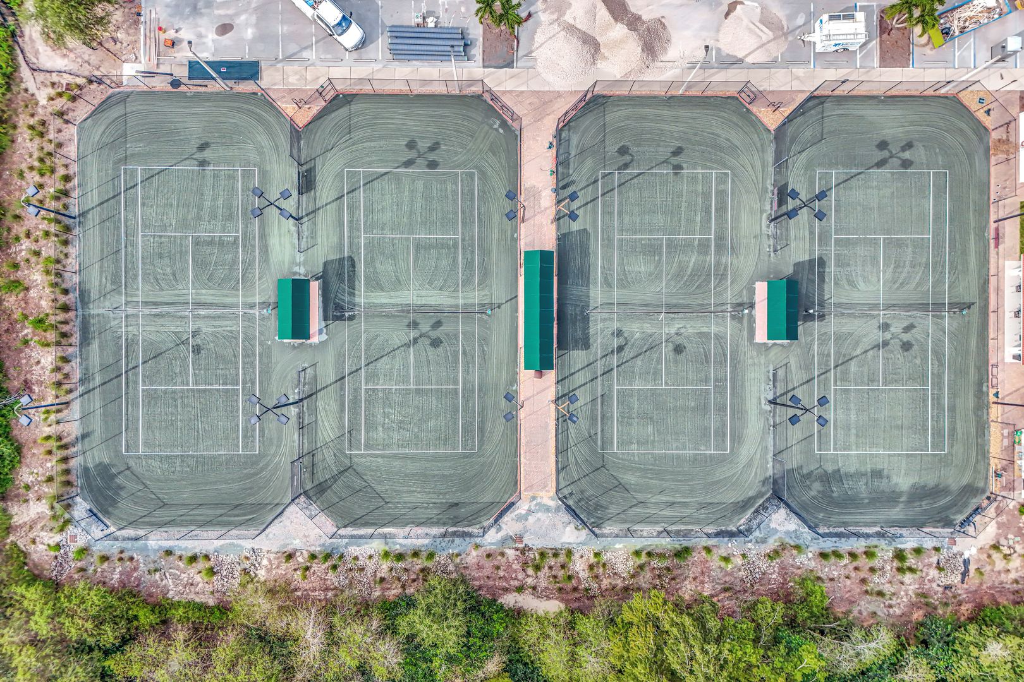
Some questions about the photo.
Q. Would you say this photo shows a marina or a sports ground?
sports ground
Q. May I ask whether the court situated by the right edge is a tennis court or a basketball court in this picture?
tennis court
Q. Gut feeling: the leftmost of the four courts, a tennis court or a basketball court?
tennis court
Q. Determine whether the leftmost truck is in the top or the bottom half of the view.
top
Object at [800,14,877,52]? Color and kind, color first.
white trailer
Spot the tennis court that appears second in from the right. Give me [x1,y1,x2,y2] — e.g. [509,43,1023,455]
[555,93,775,529]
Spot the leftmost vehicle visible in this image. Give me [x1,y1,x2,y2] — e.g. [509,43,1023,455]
[293,0,363,50]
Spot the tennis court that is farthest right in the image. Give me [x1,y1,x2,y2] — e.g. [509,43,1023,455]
[773,93,992,528]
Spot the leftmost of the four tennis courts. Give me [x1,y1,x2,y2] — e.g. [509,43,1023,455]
[76,90,300,530]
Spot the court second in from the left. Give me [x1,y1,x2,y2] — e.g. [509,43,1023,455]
[300,92,522,530]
